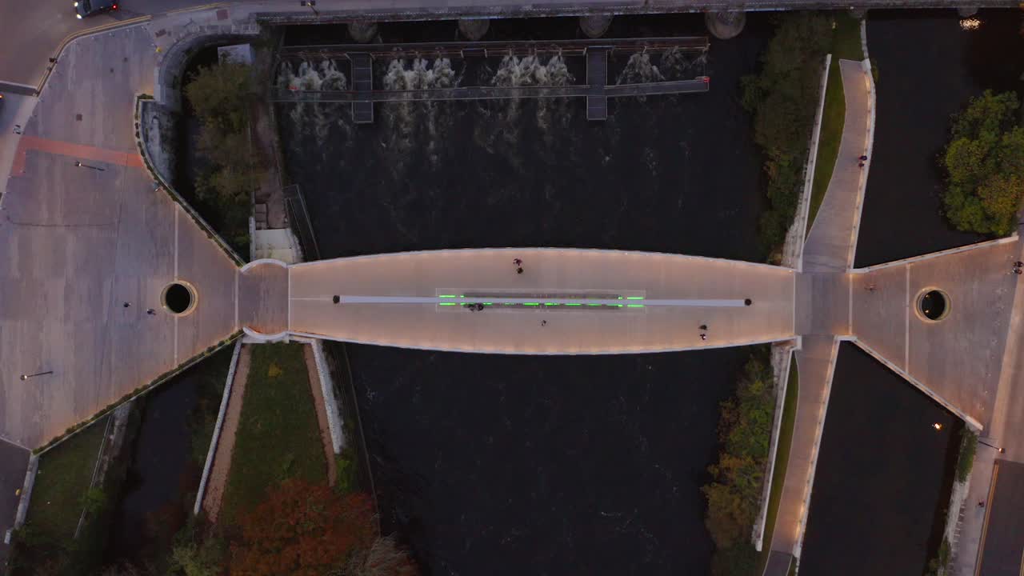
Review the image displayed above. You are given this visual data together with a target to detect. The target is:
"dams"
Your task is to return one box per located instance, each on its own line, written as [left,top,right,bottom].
[267,36,712,126]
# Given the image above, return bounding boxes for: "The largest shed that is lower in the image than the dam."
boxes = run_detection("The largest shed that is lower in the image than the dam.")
[257,228,293,262]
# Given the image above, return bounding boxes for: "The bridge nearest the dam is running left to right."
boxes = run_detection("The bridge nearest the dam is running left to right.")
[225,0,1024,56]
